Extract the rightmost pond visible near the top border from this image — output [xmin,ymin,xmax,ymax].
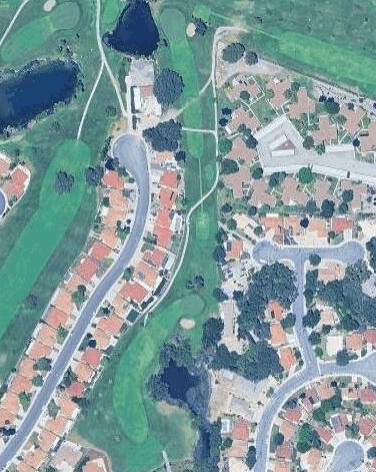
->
[104,0,159,57]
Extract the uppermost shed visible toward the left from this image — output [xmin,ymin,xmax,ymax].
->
[129,63,151,83]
